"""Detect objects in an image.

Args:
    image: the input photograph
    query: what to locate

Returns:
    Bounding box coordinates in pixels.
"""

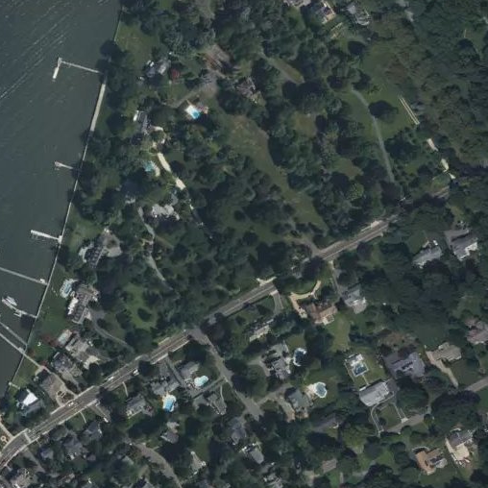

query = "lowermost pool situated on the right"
[313,382,327,399]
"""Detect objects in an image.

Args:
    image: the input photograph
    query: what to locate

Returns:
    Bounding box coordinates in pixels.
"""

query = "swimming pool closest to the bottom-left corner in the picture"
[162,396,176,412]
